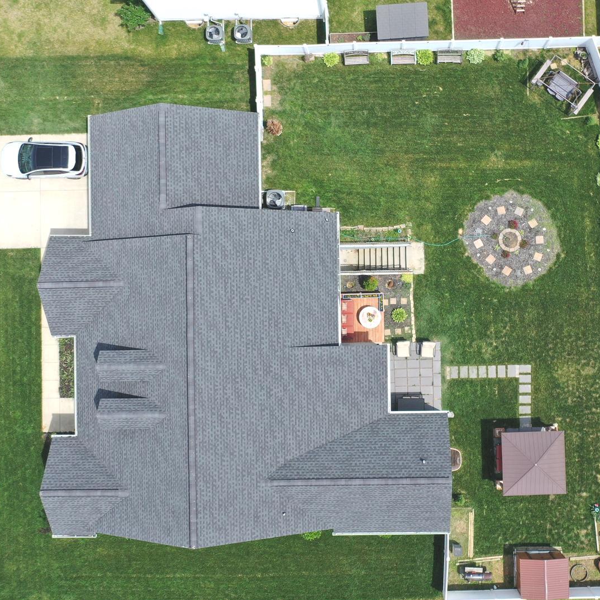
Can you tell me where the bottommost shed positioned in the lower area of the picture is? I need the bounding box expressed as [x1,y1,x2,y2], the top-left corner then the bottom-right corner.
[512,542,569,600]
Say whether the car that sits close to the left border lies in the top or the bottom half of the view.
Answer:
top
